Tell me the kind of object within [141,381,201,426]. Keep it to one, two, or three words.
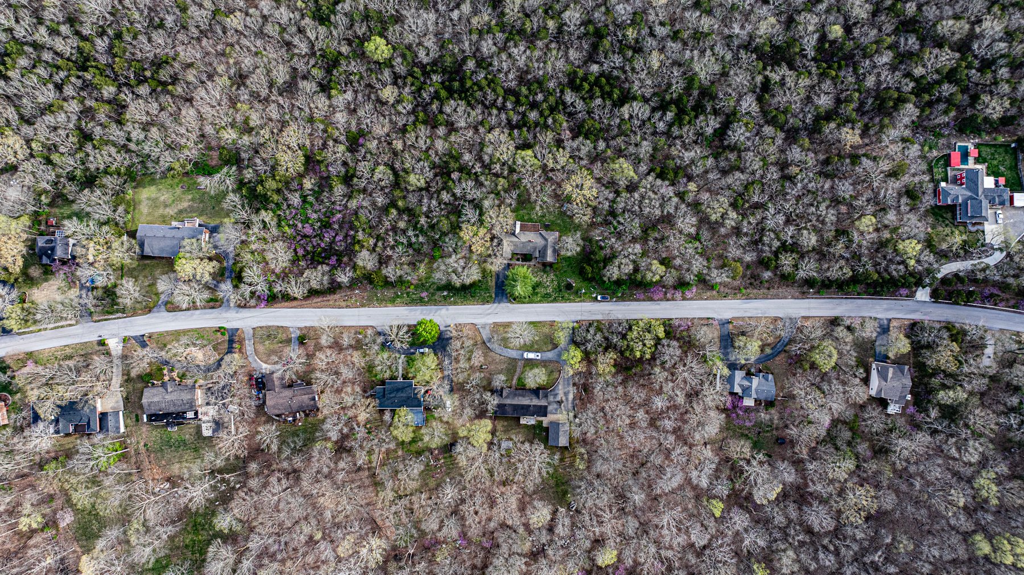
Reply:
house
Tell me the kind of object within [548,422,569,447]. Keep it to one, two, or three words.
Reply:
building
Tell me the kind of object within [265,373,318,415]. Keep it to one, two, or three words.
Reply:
house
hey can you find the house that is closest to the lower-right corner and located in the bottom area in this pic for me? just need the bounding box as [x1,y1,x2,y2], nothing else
[870,363,912,414]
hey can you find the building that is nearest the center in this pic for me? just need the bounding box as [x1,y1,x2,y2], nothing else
[501,222,558,262]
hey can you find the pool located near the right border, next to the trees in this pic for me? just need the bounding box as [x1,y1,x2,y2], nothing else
[956,142,975,168]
